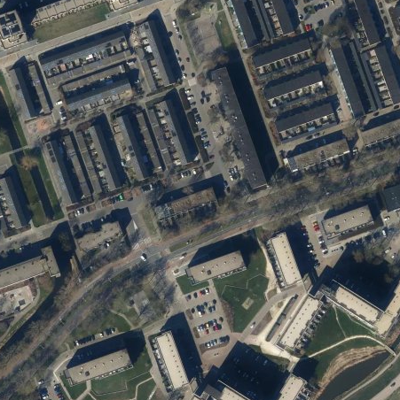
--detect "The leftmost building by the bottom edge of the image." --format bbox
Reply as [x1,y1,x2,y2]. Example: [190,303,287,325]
[68,350,132,387]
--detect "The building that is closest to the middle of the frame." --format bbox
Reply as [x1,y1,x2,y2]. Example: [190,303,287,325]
[155,188,218,220]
